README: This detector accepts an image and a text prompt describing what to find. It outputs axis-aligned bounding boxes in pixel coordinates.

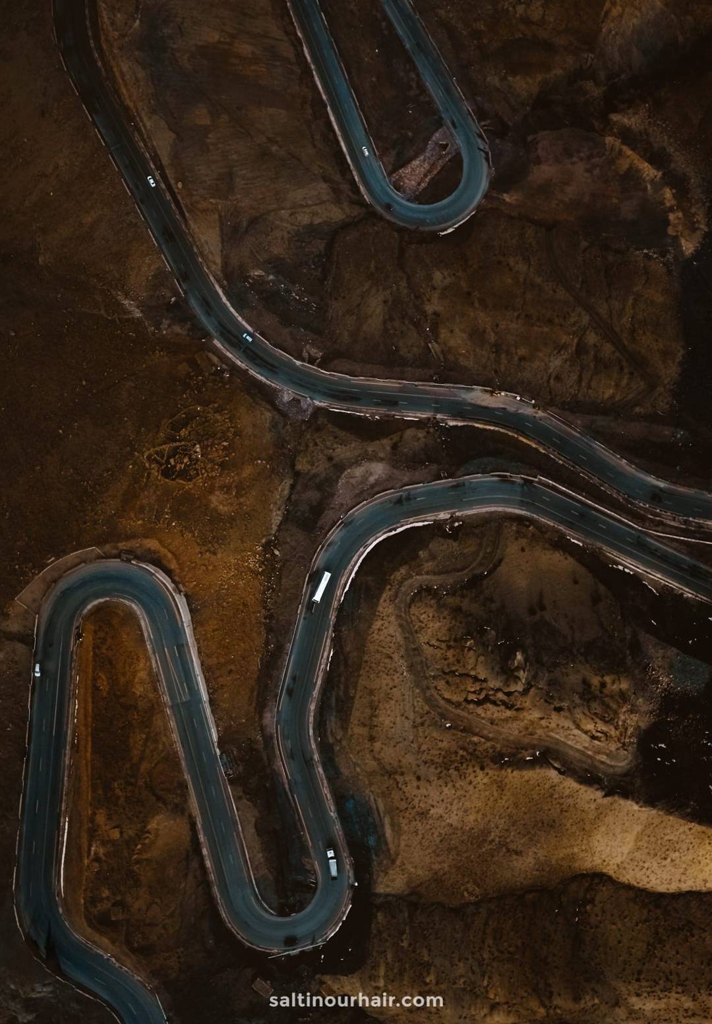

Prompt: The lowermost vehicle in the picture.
[326,848,338,881]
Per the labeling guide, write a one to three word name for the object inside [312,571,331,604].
vehicle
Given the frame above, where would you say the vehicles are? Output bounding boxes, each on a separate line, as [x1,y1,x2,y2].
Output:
[34,664,40,677]
[326,848,338,881]
[312,571,331,604]
[362,145,369,157]
[242,333,253,343]
[147,175,155,187]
